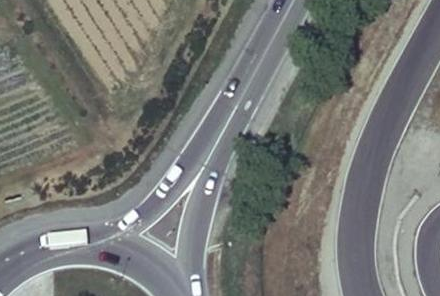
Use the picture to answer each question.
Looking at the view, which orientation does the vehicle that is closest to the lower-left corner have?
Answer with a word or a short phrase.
from side to side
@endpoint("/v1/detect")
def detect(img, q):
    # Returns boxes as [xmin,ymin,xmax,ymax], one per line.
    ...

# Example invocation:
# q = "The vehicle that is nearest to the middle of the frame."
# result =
[205,172,218,196]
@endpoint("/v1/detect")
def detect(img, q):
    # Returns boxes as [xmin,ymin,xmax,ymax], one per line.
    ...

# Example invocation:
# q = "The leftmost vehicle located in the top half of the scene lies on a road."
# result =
[226,78,240,98]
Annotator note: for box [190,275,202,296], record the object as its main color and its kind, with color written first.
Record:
white vehicle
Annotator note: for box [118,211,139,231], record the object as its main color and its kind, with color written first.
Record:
white vehicle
